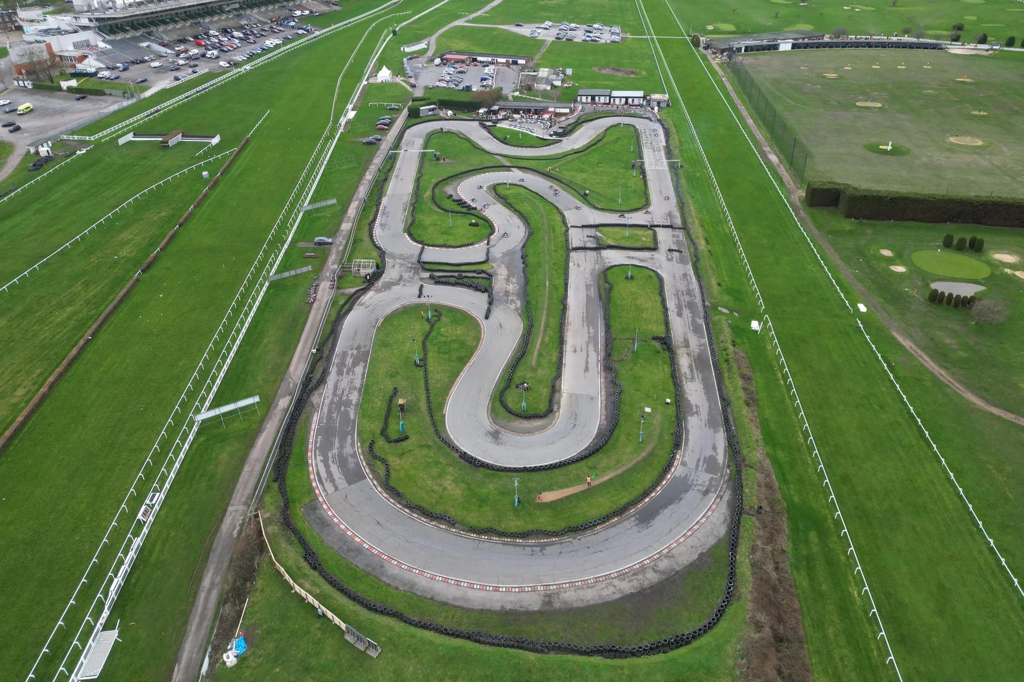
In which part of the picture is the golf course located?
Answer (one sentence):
You can find the golf course in the right area of the picture.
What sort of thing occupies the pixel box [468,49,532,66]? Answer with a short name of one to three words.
building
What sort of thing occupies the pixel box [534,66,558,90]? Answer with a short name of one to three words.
shed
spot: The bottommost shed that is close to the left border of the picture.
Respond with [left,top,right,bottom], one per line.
[13,134,52,154]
